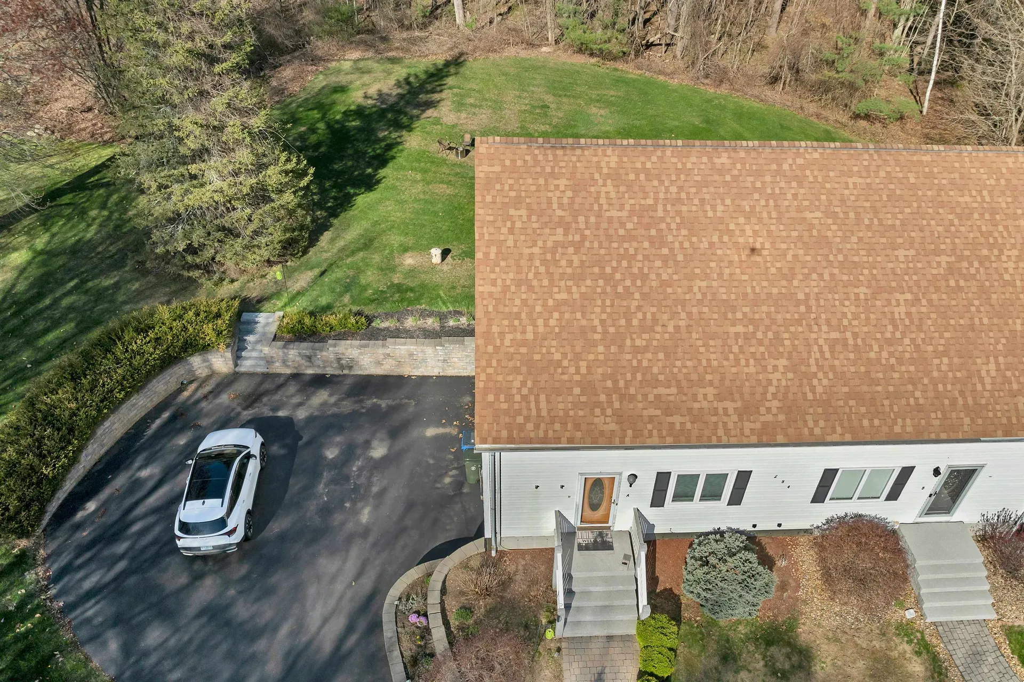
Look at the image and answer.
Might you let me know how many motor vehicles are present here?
1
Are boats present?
No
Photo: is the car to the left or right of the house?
left of it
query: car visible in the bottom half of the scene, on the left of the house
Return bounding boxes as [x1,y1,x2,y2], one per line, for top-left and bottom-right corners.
[173,430,266,554]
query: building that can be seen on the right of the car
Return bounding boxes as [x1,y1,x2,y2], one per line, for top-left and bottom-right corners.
[471,137,1024,553]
